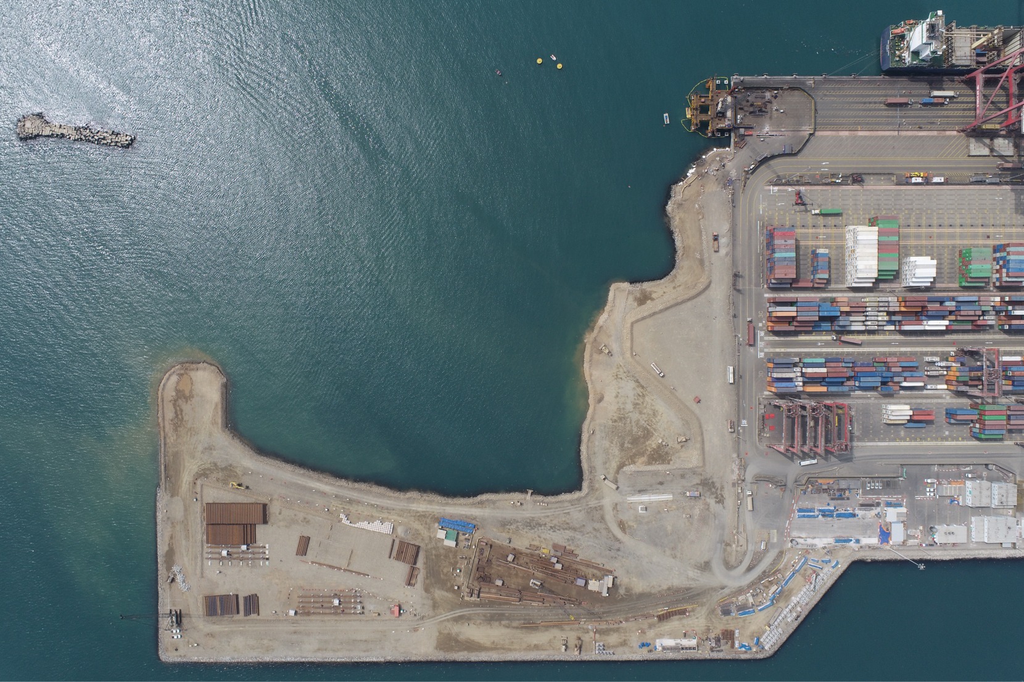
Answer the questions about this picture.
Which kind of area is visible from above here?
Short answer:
port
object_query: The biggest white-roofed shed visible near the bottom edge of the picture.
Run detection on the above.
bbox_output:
[655,635,697,651]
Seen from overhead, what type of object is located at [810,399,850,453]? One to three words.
container crane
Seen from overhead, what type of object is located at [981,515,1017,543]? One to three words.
building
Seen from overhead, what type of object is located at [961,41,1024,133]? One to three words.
container crane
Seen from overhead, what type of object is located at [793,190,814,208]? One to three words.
work vehicle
